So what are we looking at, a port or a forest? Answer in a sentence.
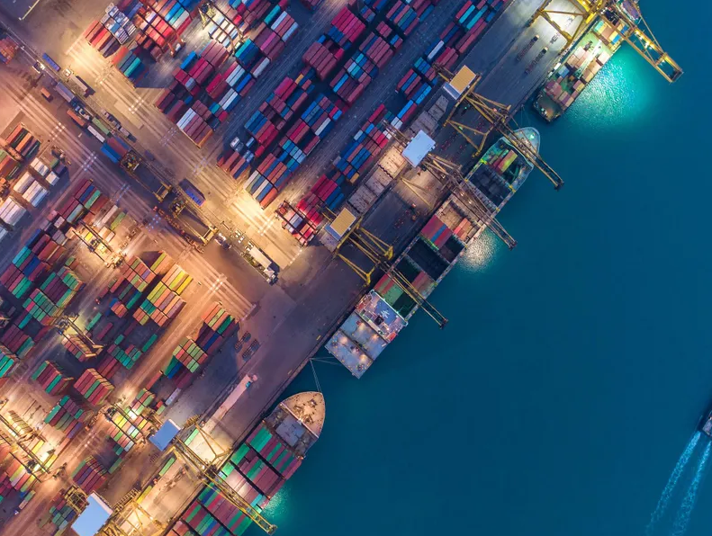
What you see here is a port.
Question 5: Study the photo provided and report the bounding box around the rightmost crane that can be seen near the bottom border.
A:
[147,411,278,535]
